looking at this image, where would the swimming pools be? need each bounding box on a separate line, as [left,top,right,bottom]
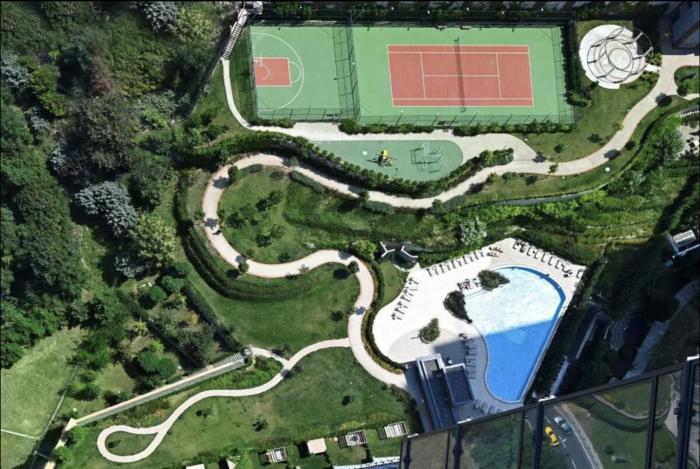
[462,263,567,406]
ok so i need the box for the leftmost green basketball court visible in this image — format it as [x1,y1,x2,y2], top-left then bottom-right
[252,25,355,120]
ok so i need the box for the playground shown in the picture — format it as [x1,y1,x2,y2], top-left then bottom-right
[308,139,463,186]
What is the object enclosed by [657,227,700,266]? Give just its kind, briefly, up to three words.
building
